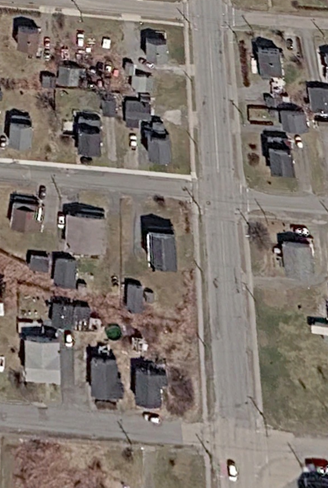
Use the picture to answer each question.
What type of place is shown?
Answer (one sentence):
What you see here is a residential area.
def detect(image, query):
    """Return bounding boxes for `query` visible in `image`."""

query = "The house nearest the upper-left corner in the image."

[17,25,41,58]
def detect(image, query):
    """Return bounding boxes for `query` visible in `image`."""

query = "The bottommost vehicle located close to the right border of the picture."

[306,463,328,476]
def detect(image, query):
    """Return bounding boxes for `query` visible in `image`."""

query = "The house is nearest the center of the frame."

[147,227,177,272]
